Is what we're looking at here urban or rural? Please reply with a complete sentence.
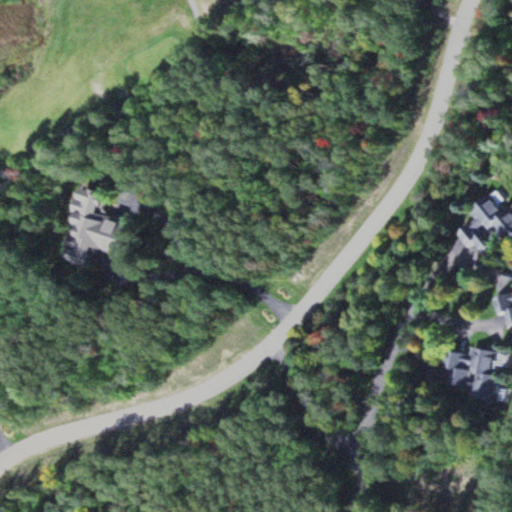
It looks rural.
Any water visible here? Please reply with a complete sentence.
No, no water is visible.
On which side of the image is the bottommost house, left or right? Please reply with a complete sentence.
The bottommost house appears in the right half of the scene.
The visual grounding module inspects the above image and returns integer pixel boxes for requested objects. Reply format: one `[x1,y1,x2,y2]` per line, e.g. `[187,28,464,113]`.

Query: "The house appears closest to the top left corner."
[66,189,120,254]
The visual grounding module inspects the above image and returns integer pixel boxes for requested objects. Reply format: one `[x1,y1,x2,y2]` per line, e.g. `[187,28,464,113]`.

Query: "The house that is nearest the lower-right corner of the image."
[445,344,497,392]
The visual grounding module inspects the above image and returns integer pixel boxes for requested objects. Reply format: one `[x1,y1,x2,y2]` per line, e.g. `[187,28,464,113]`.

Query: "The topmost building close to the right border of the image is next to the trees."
[454,188,512,258]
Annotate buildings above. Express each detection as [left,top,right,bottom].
[445,344,497,392]
[491,276,512,339]
[454,188,512,258]
[66,189,120,254]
